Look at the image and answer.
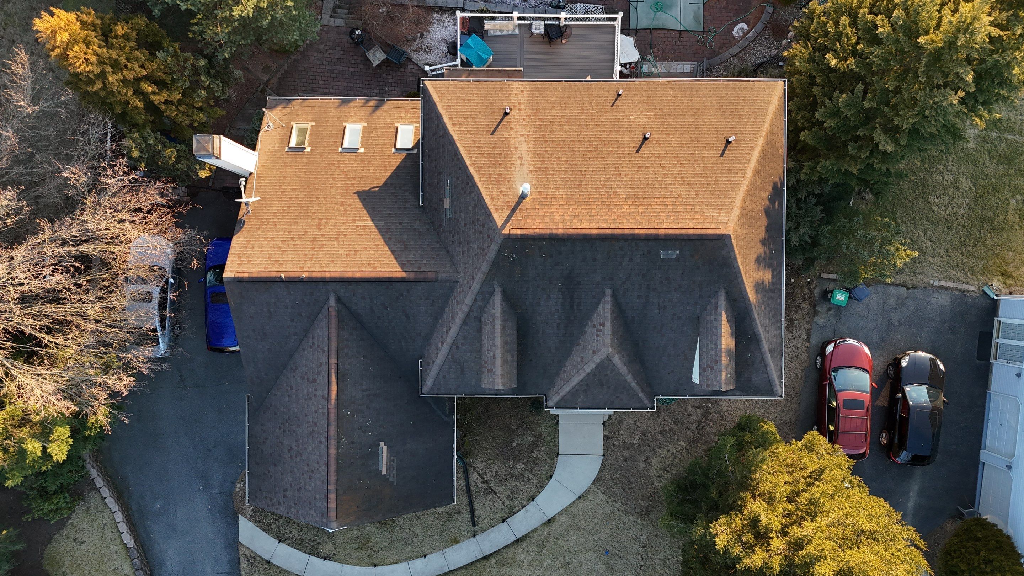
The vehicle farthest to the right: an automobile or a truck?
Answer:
automobile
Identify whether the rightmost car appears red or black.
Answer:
black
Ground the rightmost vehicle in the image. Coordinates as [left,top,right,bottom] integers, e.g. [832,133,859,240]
[878,346,954,471]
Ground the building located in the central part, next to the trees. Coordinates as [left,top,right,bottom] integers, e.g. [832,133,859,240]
[191,65,787,530]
